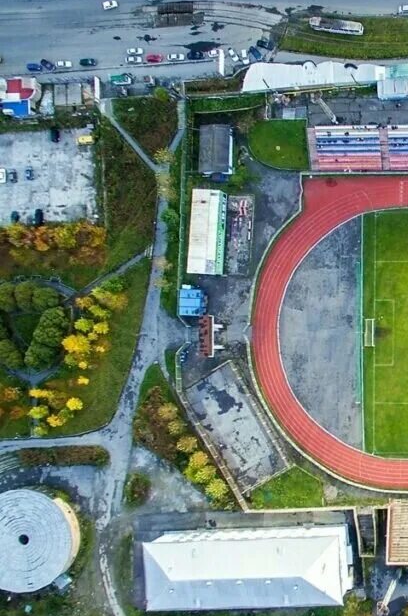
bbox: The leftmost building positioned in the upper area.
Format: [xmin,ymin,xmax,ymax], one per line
[0,78,51,122]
